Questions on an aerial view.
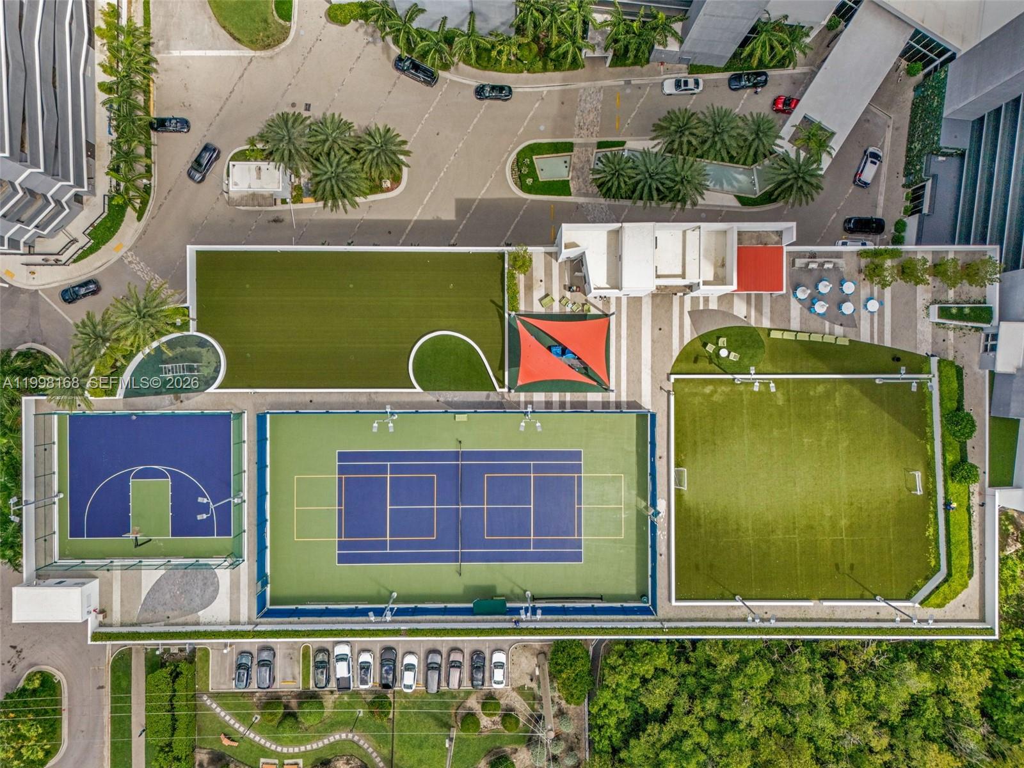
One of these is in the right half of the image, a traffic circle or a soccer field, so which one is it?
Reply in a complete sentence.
The one visible in the right half of the image is a soccer field.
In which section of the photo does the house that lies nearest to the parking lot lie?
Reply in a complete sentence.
The house that lies nearest to the parking lot sits in the bottom left section of the image.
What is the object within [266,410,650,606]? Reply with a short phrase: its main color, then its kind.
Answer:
green tennis court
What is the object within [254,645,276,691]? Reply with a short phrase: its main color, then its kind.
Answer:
gray car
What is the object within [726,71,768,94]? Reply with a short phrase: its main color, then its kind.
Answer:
black car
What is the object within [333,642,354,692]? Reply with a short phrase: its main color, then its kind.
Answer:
white truck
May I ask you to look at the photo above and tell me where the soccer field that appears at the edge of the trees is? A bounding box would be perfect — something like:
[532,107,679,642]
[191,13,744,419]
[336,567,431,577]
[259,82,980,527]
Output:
[670,358,948,606]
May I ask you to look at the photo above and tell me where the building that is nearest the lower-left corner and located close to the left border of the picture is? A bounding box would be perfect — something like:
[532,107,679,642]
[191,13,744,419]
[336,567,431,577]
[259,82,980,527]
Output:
[12,579,98,624]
